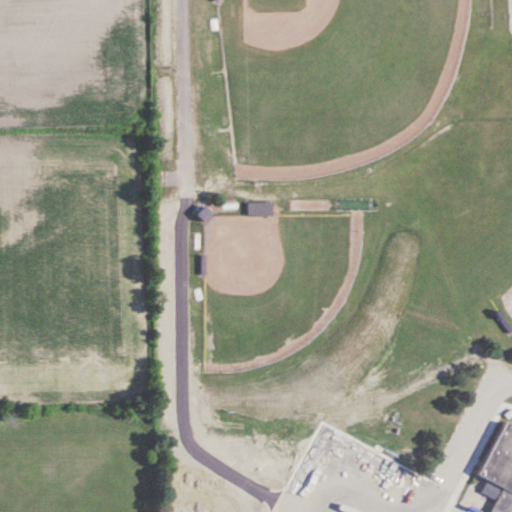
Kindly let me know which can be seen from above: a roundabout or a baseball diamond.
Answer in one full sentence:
The image shows a baseball diamond.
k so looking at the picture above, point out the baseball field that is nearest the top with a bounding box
[224,0,471,182]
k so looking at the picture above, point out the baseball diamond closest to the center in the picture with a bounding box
[205,212,362,374]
